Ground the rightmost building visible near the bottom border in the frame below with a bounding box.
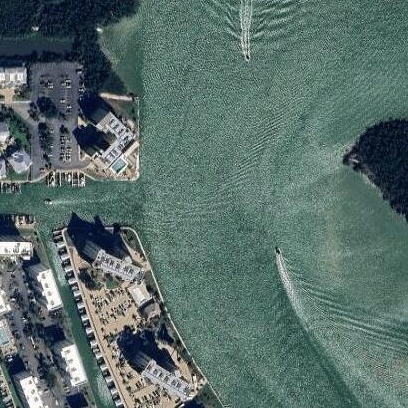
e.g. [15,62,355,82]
[130,351,192,402]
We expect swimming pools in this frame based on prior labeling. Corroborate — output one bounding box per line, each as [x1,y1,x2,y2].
[0,324,12,347]
[110,157,129,177]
